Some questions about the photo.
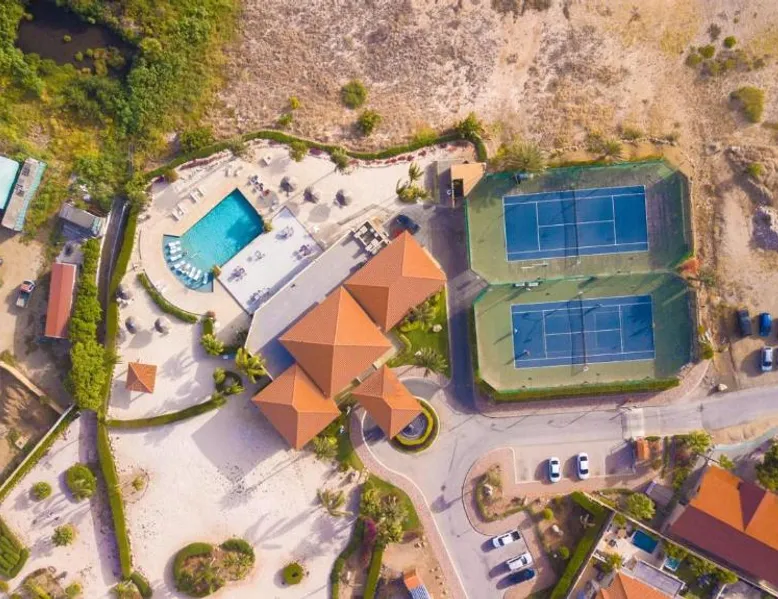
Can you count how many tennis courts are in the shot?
two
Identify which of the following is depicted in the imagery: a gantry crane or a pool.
pool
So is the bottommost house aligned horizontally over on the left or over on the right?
right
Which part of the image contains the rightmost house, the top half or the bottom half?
bottom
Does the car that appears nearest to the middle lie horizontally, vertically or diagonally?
diagonally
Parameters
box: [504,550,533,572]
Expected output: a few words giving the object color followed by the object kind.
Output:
white car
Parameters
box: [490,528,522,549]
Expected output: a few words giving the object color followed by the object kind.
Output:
white vehicle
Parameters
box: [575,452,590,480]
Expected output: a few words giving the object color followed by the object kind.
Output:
white car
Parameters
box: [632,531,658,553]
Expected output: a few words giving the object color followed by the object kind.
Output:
blue swimming pool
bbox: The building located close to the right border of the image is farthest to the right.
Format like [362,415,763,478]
[665,464,778,580]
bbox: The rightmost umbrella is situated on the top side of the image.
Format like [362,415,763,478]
[335,189,353,207]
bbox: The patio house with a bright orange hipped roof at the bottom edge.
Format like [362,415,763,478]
[587,554,685,599]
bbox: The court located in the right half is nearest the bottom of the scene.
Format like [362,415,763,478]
[478,271,690,392]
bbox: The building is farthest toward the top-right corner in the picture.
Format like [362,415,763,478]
[450,163,485,208]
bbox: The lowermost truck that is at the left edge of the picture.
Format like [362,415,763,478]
[13,278,36,307]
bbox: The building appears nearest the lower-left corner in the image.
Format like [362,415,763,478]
[125,362,162,394]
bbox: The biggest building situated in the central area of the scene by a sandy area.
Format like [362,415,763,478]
[245,218,446,450]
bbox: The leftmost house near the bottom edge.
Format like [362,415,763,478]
[399,566,434,599]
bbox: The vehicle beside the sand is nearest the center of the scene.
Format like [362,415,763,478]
[394,209,421,234]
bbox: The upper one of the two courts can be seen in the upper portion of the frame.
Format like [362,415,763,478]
[467,161,688,284]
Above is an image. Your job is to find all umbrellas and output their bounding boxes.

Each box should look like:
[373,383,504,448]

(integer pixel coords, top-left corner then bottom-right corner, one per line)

[280,176,299,194]
[156,315,173,334]
[126,315,144,334]
[335,189,353,207]
[117,284,134,302]
[302,186,320,204]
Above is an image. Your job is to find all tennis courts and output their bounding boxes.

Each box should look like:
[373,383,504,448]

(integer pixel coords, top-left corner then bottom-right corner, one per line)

[478,271,690,392]
[467,161,688,284]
